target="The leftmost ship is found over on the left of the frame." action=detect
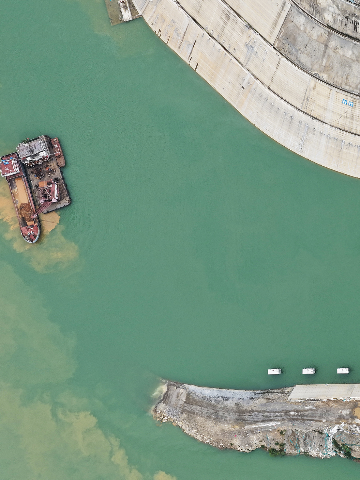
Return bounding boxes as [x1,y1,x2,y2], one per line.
[0,152,43,244]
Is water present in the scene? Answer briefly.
Yes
